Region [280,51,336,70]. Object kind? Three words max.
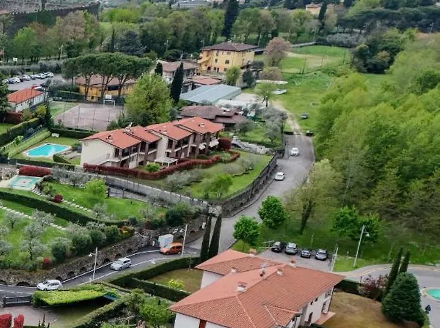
sports field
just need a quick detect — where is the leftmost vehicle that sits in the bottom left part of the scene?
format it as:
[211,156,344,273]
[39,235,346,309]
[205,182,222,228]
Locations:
[35,278,64,292]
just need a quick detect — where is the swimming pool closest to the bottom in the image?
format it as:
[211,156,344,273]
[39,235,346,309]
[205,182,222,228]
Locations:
[0,175,41,192]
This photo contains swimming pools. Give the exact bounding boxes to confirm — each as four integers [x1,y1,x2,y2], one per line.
[21,142,71,160]
[0,175,41,192]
